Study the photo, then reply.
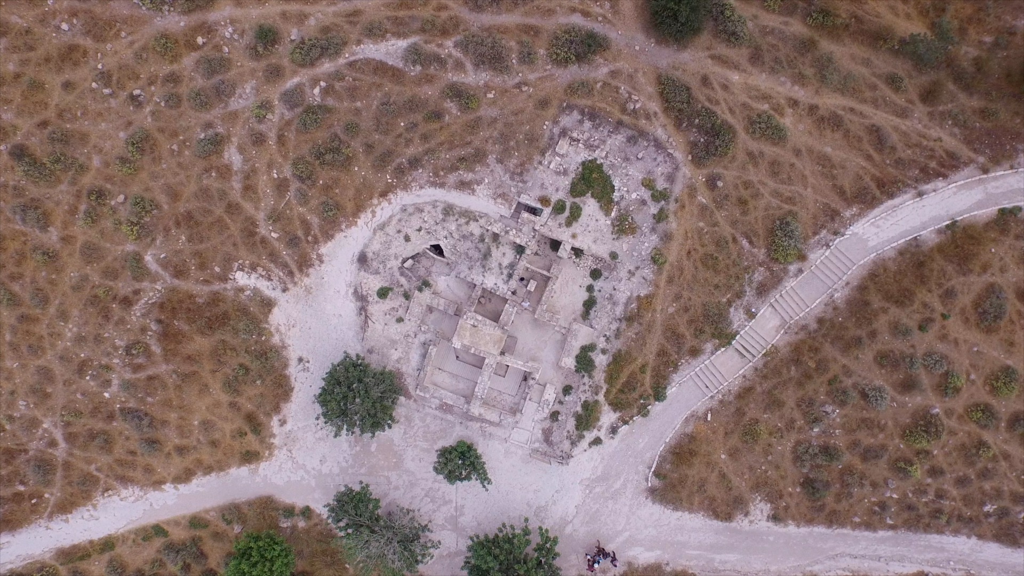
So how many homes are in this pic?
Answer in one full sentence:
The count comes to 1 home.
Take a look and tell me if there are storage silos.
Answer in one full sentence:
No, there isn't any storage silo down there.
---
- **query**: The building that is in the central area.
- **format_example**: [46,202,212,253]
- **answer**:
[452,309,509,362]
